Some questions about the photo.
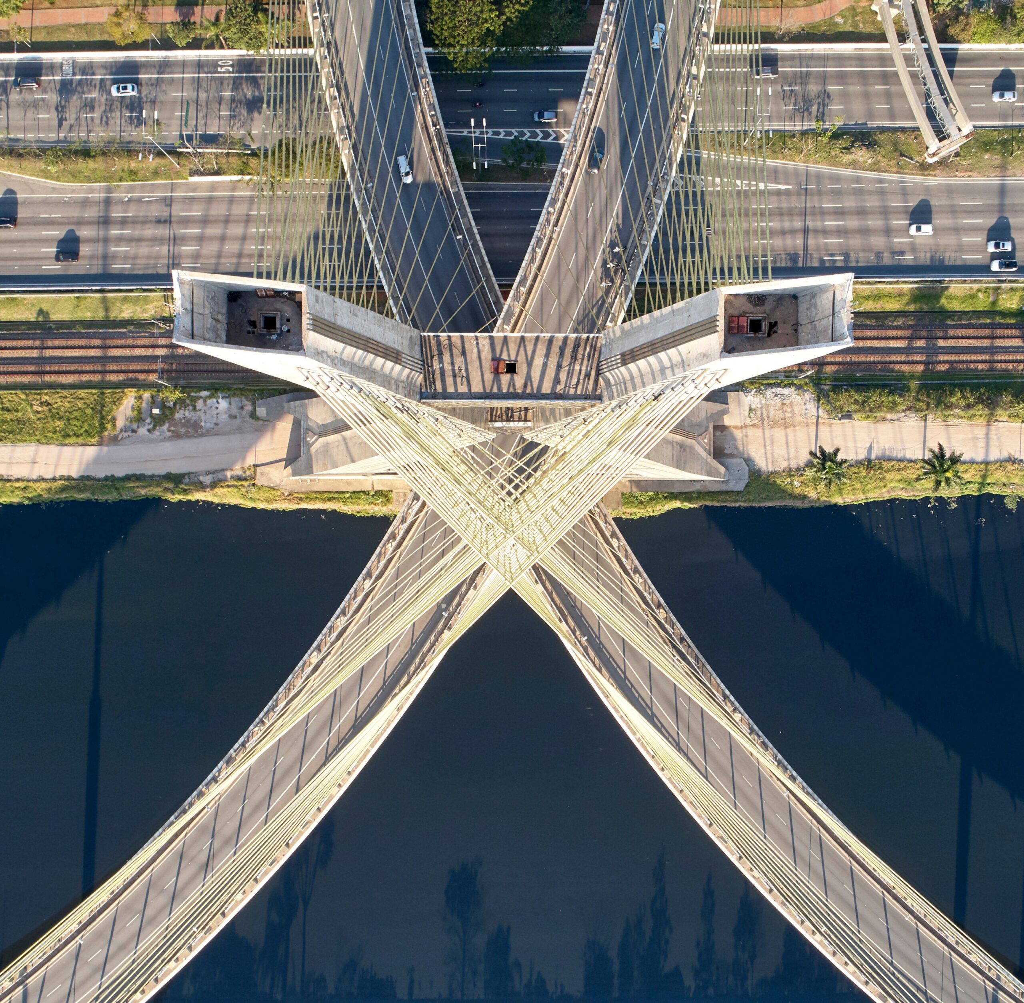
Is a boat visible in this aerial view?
No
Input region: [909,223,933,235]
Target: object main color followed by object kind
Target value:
white vehicle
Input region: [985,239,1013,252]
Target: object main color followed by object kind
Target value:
white vehicle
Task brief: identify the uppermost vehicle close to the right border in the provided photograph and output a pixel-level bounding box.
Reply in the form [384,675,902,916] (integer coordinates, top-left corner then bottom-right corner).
[990,90,1018,103]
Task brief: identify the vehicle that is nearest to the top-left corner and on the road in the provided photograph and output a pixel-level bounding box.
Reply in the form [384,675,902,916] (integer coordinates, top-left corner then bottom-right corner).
[13,75,41,90]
